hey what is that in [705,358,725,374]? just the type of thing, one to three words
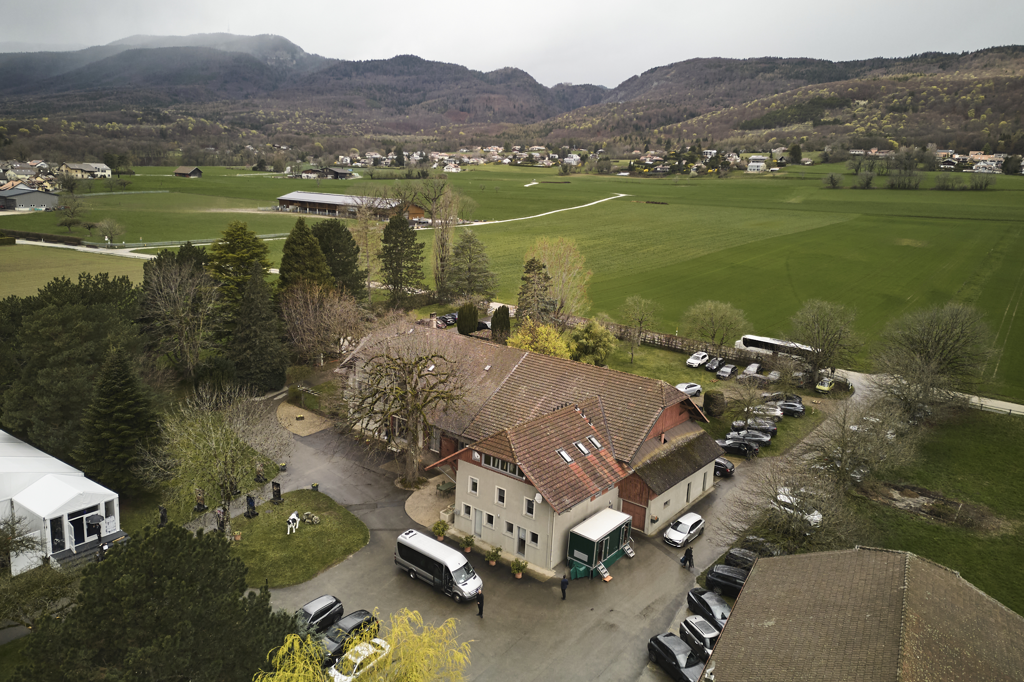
car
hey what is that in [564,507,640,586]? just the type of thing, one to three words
trailer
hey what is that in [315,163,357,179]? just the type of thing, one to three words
building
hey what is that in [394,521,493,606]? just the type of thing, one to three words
vehicle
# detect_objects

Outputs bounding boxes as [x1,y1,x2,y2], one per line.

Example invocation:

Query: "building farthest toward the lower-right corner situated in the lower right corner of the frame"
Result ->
[699,545,1024,682]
